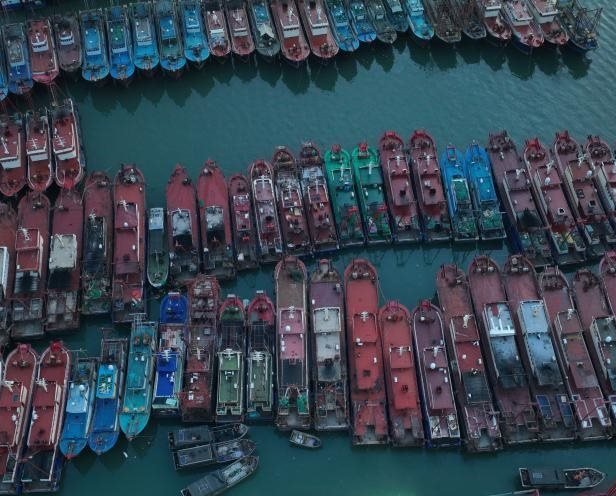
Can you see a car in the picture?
No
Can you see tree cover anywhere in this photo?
No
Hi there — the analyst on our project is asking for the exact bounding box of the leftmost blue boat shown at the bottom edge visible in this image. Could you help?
[59,357,100,481]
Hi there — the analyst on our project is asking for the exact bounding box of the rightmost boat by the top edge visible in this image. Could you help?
[562,0,607,70]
